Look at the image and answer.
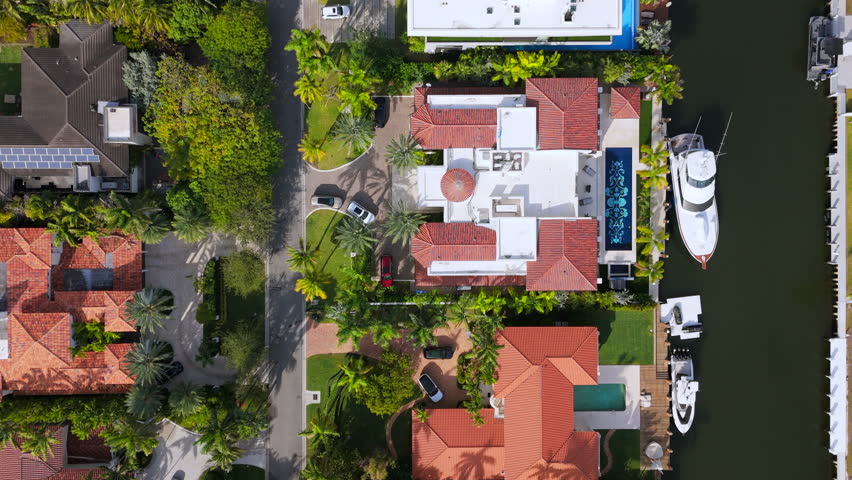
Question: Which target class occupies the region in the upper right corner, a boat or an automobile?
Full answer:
It is a boat that can be seen in the upper right corner.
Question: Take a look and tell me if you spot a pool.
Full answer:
Yes, a pool can be made out from above.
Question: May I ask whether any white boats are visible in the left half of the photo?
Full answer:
No, the scene shows no white boat in the left half of the photo.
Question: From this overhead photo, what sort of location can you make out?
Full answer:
This image shows a residential area.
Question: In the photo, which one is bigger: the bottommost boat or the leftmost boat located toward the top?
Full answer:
The larger object is the leftmost boat located toward the top, with the bottommost boat being the smaller of the pair.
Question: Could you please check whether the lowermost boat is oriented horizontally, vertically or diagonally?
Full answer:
I'd say the lowermost boat is aligned vertically in the picture.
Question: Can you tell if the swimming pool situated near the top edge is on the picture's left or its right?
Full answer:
You can find the swimming pool situated near the top edge on the right side of the picture.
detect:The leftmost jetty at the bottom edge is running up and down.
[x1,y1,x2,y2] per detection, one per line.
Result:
[640,304,668,468]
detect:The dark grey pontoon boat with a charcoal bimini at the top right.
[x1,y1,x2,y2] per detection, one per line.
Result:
[805,15,842,91]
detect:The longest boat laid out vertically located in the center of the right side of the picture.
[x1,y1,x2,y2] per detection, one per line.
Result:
[671,112,726,265]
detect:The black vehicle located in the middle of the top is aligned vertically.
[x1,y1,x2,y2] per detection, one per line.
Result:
[373,97,387,127]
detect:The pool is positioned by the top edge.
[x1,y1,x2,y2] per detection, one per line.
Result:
[503,0,638,52]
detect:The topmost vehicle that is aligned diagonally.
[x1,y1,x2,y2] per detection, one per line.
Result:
[347,200,375,225]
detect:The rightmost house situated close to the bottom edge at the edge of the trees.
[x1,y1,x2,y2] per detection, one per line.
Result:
[412,328,600,480]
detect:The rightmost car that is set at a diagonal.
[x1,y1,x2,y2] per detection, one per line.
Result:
[418,373,443,401]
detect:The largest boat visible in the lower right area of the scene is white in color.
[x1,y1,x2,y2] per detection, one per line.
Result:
[672,352,699,433]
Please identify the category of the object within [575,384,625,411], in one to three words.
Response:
swimming pool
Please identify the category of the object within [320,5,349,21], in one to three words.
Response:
car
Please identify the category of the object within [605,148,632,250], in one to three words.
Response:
swimming pool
